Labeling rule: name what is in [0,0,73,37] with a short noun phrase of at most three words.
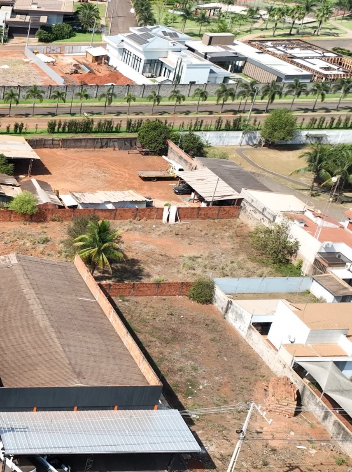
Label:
house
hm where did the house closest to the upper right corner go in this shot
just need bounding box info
[185,34,313,94]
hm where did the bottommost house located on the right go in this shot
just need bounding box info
[236,296,352,433]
